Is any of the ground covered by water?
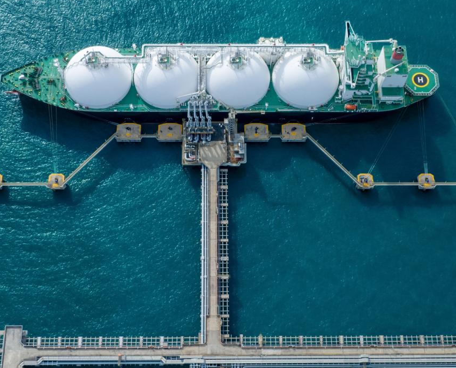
Yes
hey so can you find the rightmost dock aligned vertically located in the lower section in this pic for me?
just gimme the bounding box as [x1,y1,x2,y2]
[200,167,229,342]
